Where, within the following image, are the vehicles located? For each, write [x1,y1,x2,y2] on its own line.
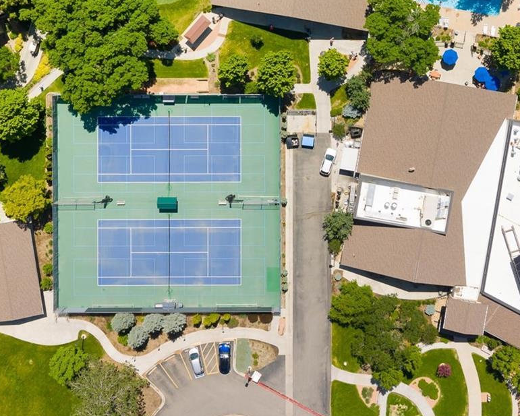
[319,147,336,178]
[188,346,205,378]
[28,39,40,54]
[218,342,232,374]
